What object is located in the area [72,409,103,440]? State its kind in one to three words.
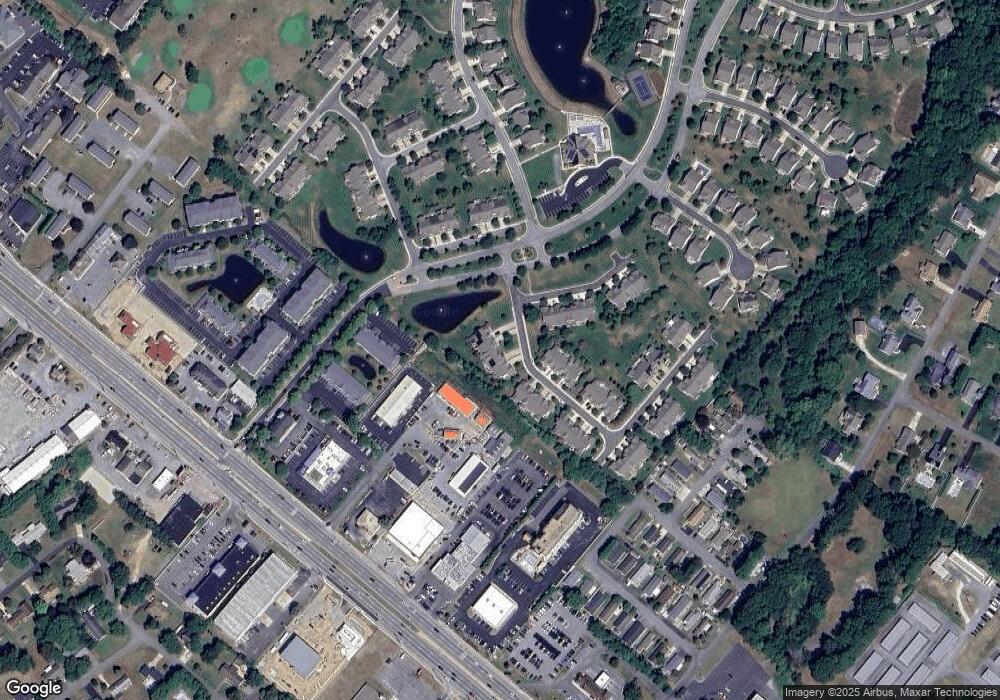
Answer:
building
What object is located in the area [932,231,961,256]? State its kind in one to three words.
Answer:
house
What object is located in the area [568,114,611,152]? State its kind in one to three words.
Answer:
swimming pool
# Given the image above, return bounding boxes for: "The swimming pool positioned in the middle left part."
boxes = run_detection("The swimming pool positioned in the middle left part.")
[246,288,276,311]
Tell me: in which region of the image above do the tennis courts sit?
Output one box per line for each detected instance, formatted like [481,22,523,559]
[624,68,659,108]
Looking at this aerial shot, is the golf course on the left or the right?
left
